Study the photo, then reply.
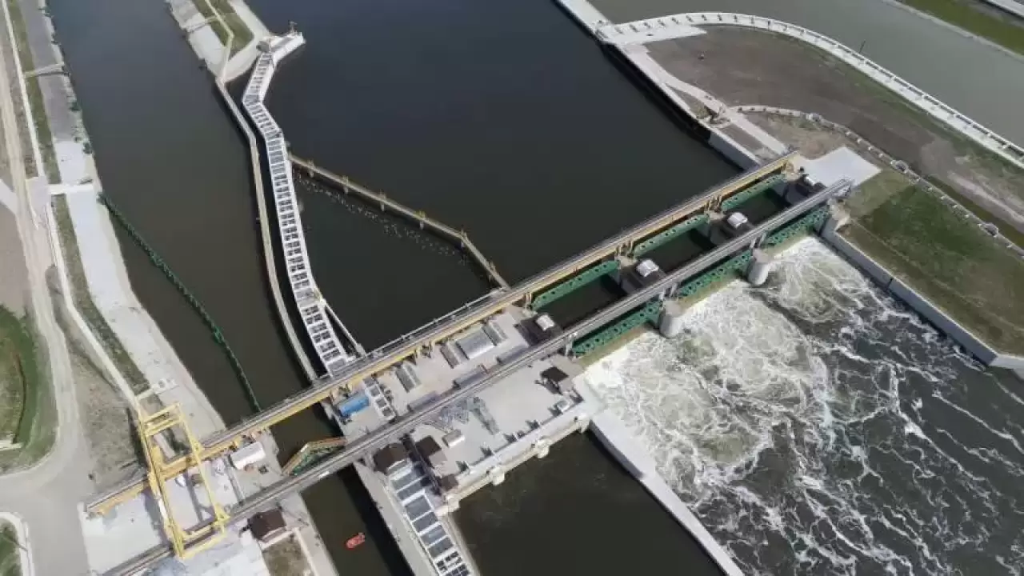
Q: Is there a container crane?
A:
Yes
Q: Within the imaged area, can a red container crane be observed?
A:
No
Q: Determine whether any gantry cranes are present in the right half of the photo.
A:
No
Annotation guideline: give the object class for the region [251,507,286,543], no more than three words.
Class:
shed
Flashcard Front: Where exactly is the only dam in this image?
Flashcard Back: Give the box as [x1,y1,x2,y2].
[321,166,852,576]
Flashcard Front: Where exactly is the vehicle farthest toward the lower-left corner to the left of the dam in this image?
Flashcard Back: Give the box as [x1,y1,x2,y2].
[172,476,193,491]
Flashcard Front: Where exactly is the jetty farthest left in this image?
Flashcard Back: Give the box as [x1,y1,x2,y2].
[287,154,506,289]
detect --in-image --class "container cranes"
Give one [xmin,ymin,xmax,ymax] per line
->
[126,401,234,562]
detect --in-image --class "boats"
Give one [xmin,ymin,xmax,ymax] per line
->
[345,532,363,548]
